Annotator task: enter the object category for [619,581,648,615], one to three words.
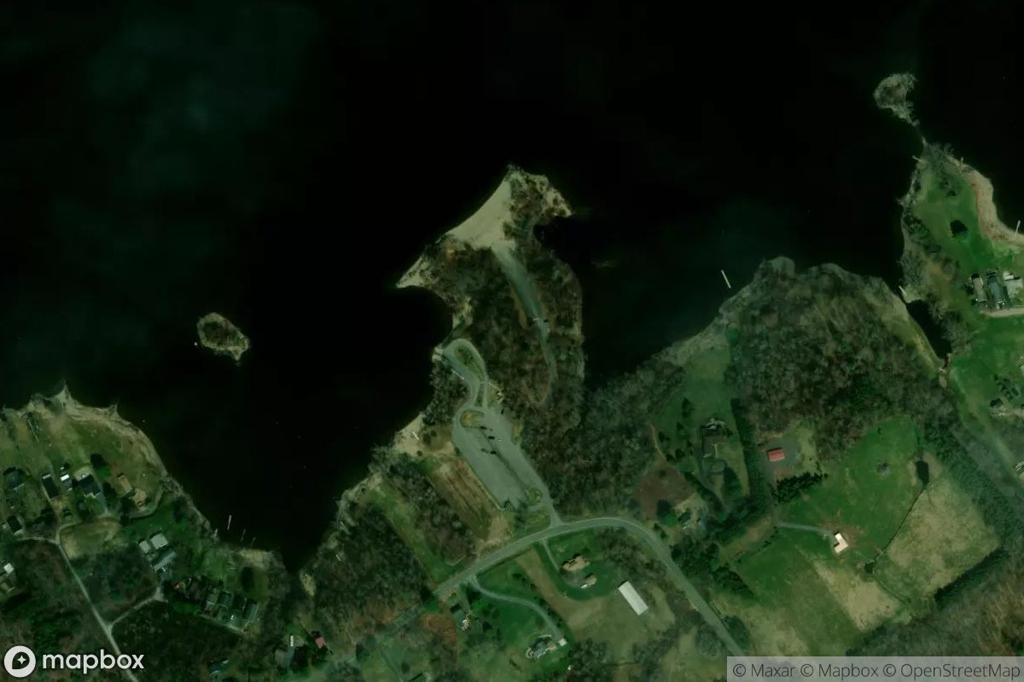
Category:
barn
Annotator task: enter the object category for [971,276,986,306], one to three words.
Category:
house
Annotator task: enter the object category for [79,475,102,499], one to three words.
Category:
house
